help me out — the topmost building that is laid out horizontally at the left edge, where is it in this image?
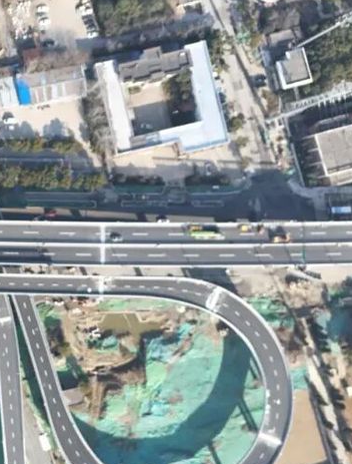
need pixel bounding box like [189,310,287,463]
[17,63,90,103]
